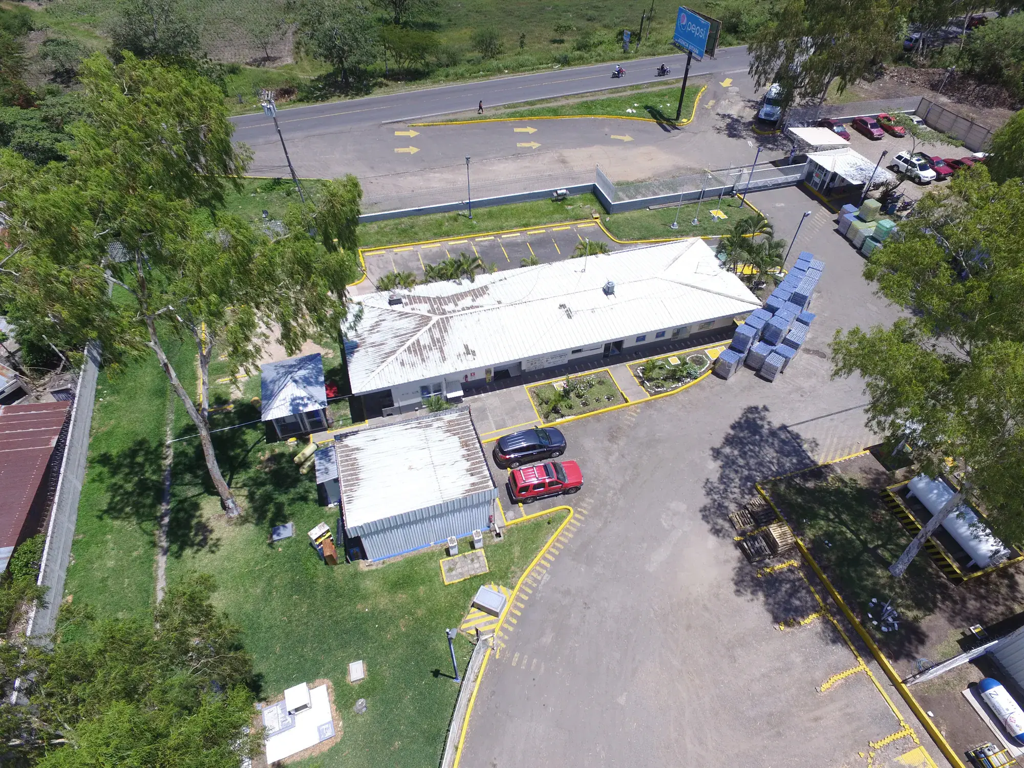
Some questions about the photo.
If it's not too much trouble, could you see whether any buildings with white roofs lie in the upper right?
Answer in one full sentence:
Yes, a building with a white roof appears in the upper right.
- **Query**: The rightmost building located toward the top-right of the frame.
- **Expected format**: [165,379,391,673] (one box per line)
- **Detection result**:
[798,147,895,215]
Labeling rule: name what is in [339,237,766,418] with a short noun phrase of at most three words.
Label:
building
